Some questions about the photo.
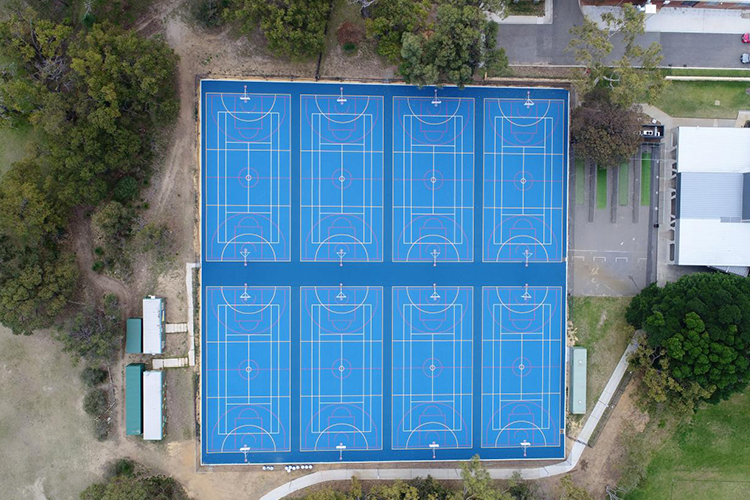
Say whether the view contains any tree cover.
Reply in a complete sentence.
Yes, there is tree cover in the image.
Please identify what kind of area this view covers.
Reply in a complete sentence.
The picture captures a sports ground.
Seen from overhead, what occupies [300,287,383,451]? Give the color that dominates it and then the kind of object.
blue sports court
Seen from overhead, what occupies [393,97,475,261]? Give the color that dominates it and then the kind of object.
blue sports court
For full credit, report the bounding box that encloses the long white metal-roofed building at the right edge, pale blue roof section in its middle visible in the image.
[658,127,750,278]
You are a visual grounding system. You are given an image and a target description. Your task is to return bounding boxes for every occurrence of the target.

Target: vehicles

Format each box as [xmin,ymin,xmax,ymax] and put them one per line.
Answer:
[740,34,750,45]
[740,52,750,64]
